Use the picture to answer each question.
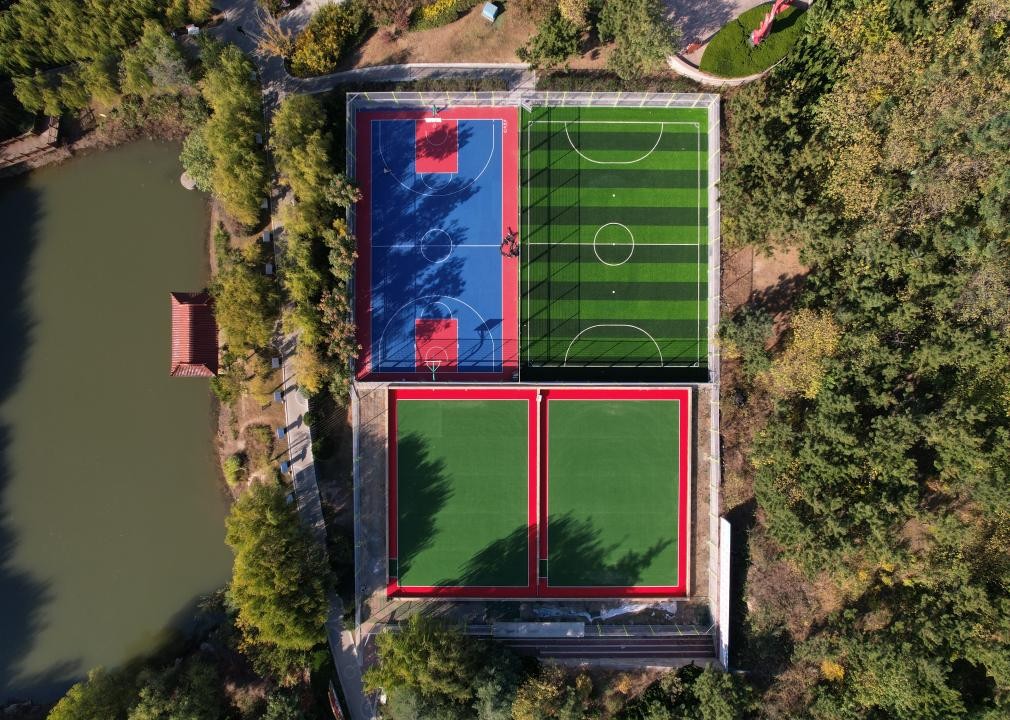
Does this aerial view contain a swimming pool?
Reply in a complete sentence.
No, there is no swimming pool in the image.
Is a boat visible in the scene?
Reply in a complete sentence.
No, the frame has no boat in it.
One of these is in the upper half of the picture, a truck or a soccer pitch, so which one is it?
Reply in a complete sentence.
What appears in the upper half of the picture is a soccer pitch.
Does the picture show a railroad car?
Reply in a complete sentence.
No, the frame has no railroad car in it.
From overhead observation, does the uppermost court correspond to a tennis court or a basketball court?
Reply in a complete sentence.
The uppermost court in the image is a basketball court.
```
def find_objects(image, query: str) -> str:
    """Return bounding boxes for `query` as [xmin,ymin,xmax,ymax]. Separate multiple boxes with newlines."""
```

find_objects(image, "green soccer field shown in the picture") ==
[521,107,709,382]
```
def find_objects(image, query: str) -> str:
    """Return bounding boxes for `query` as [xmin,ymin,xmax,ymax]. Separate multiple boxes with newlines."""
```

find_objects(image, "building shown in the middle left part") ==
[169,291,227,379]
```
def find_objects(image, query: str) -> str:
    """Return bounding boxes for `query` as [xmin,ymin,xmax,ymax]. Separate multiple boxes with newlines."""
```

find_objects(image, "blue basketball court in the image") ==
[356,107,519,382]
